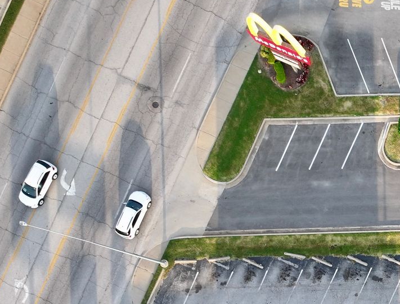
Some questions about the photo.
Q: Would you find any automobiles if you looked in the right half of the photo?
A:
No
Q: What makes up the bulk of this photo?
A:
paved ground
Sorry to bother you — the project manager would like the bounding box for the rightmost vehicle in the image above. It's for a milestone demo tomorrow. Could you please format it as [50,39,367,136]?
[116,194,150,238]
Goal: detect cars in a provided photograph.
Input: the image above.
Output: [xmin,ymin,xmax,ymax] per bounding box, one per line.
[20,160,58,206]
[116,194,150,238]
